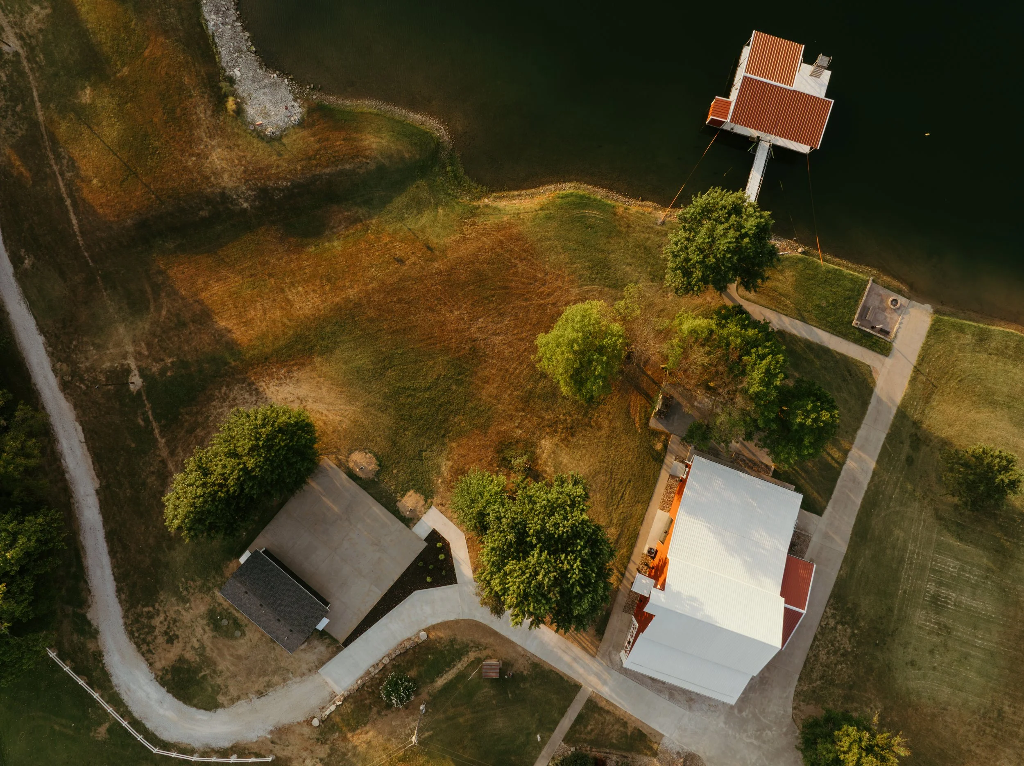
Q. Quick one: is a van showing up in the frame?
No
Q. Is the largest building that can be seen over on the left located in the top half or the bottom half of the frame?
bottom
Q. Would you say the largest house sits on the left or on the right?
right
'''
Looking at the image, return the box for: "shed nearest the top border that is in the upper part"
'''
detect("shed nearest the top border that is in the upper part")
[704,96,732,130]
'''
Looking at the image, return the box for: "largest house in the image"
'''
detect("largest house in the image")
[618,455,817,706]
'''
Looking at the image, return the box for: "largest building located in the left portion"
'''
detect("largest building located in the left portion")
[219,544,335,655]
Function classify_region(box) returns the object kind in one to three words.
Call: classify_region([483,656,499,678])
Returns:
building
